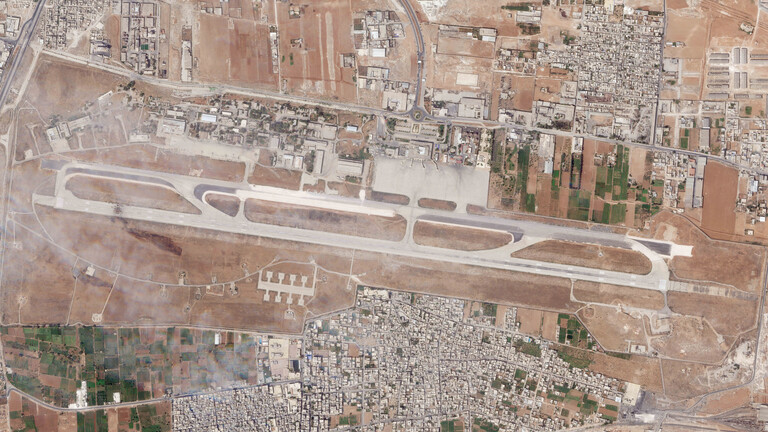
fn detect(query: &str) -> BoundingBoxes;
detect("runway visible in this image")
[56,196,664,291]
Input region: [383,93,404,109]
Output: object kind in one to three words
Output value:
building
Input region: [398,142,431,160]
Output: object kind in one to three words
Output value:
building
